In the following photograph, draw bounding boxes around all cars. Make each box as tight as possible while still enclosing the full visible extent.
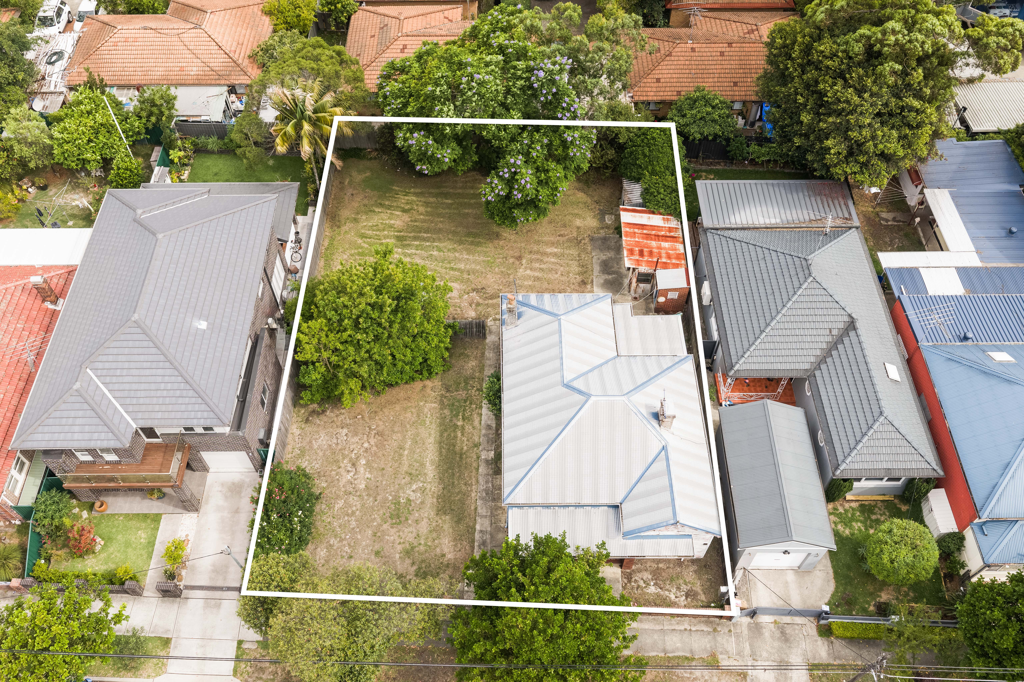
[71,0,115,36]
[30,0,71,33]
